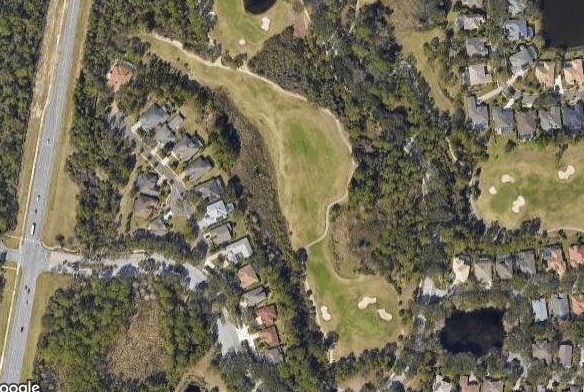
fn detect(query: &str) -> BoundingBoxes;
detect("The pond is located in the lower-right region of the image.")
[438,307,506,356]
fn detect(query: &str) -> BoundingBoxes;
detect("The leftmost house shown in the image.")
[105,60,135,84]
